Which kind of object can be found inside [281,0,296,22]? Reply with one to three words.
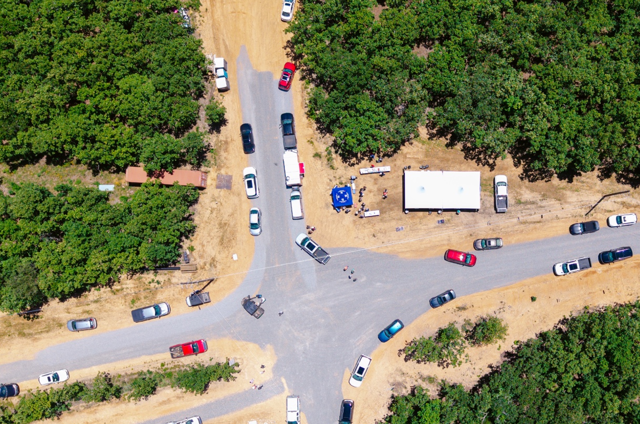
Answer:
car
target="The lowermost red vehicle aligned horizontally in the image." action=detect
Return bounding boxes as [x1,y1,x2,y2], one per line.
[168,340,209,360]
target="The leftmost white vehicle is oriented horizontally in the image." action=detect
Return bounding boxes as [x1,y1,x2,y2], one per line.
[37,369,71,386]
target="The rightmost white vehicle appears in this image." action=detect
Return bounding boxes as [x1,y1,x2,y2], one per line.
[606,211,638,227]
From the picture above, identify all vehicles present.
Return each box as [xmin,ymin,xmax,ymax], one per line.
[474,237,503,251]
[0,383,20,399]
[170,416,203,424]
[247,207,262,236]
[279,112,297,150]
[241,296,264,318]
[281,0,296,22]
[430,288,456,307]
[349,354,371,388]
[37,369,71,386]
[444,248,478,267]
[569,220,600,235]
[290,190,305,220]
[168,340,209,360]
[284,394,300,424]
[244,167,260,198]
[597,246,634,263]
[494,175,510,216]
[552,256,593,276]
[606,211,638,227]
[66,317,98,332]
[187,292,212,310]
[338,398,354,424]
[296,233,333,267]
[130,302,171,323]
[378,319,404,341]
[240,123,256,154]
[278,61,296,92]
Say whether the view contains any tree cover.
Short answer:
Yes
